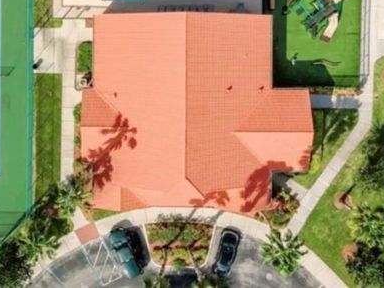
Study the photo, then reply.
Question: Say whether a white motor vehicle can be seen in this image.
No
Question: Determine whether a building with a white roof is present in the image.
No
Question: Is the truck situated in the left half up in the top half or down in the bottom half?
bottom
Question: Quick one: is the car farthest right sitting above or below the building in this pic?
below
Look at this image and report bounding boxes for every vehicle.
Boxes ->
[217,230,241,275]
[109,227,142,279]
